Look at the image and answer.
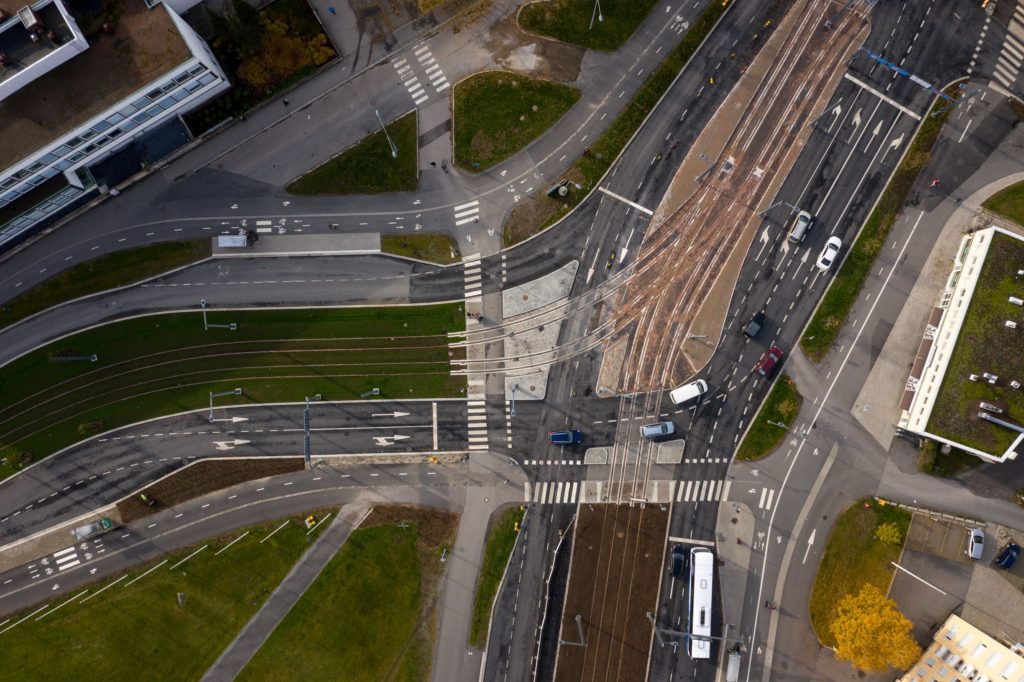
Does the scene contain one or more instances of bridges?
No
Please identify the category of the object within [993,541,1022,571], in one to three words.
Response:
car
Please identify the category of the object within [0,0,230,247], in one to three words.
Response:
building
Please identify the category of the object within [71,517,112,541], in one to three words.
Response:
truck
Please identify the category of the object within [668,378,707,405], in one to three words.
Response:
vehicle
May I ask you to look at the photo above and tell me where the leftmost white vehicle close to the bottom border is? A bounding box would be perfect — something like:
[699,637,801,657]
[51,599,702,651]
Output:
[686,546,714,658]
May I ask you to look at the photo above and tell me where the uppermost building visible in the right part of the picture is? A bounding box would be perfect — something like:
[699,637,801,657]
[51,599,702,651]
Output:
[897,227,1024,462]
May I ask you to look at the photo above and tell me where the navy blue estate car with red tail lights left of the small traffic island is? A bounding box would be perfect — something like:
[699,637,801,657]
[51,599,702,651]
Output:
[549,429,581,446]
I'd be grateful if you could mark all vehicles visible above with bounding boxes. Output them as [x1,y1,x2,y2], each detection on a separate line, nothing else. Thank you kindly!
[668,378,707,405]
[549,429,581,446]
[640,421,674,437]
[815,235,843,271]
[966,527,987,560]
[71,517,112,541]
[787,211,811,246]
[669,543,686,577]
[993,541,1022,571]
[755,344,782,377]
[686,546,714,658]
[739,310,767,339]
